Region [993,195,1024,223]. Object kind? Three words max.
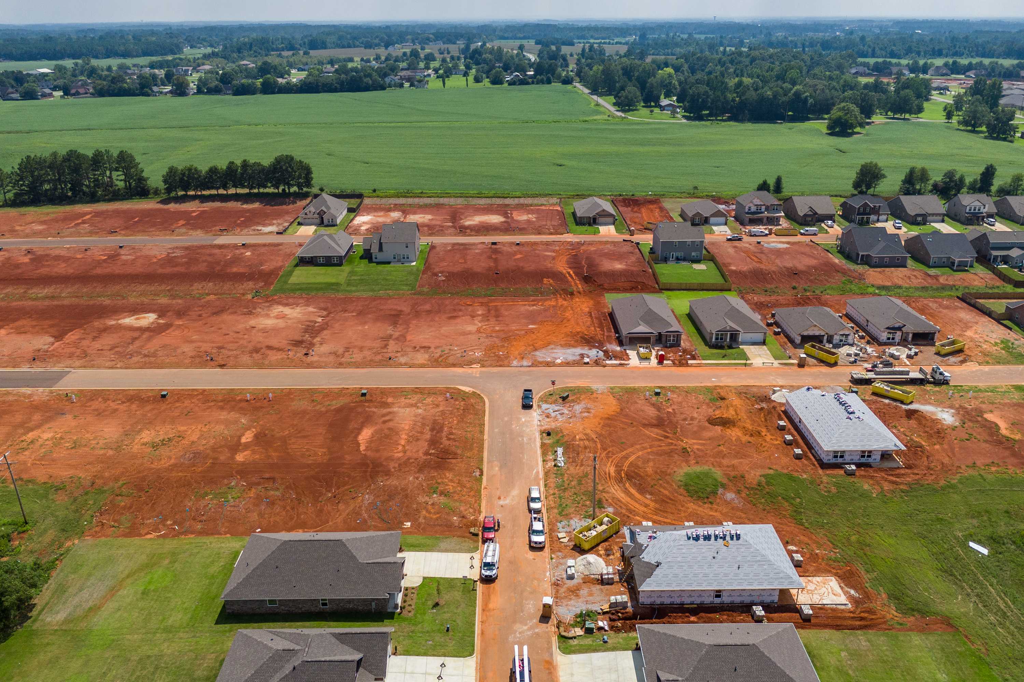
house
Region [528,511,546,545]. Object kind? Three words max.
vehicle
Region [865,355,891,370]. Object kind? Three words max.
work vehicle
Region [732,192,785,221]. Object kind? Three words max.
house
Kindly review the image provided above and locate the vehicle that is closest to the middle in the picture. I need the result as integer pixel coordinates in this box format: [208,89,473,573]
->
[521,389,534,406]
